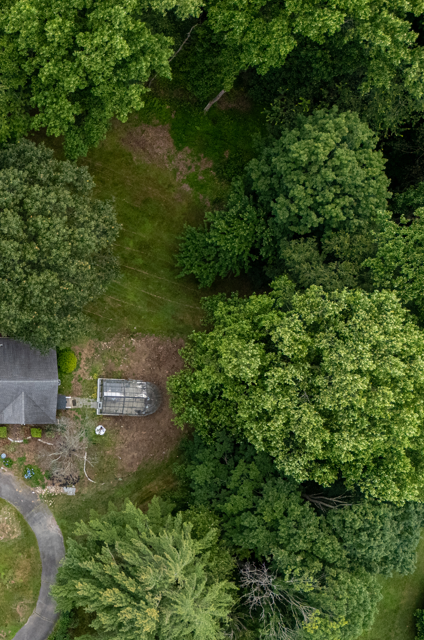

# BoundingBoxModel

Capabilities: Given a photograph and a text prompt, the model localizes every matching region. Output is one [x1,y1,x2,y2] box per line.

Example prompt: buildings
[0,336,67,426]
[95,378,160,418]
